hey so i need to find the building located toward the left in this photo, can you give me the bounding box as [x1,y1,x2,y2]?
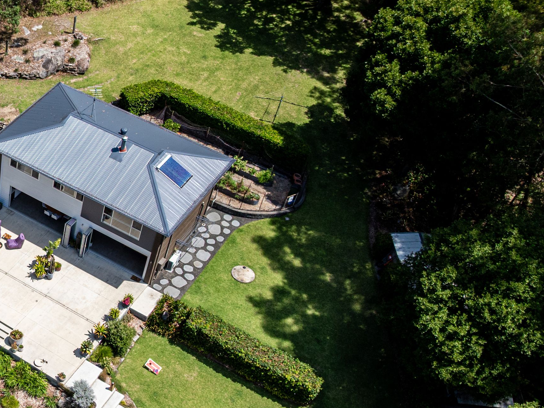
[0,81,237,285]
